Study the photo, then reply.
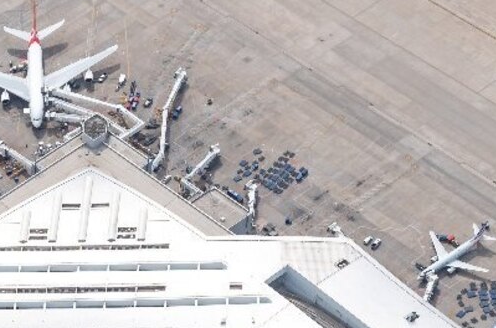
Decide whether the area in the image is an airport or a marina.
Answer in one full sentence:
This image shows an airport.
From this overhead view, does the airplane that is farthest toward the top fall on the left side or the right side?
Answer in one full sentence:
The airplane that is farthest toward the top sits on the left side.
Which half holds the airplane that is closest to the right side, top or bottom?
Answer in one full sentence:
Seen from above, the airplane that is closest to the right side lies in the bottom half of the view.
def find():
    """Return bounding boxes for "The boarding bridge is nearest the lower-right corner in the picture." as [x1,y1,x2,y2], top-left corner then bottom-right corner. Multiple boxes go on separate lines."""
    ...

[423,273,437,299]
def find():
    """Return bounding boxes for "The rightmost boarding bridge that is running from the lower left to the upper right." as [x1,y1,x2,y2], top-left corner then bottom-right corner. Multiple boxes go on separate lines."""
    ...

[183,146,218,198]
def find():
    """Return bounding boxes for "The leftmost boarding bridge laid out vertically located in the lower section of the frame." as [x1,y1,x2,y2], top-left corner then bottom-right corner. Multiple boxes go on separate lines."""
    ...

[243,183,258,231]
